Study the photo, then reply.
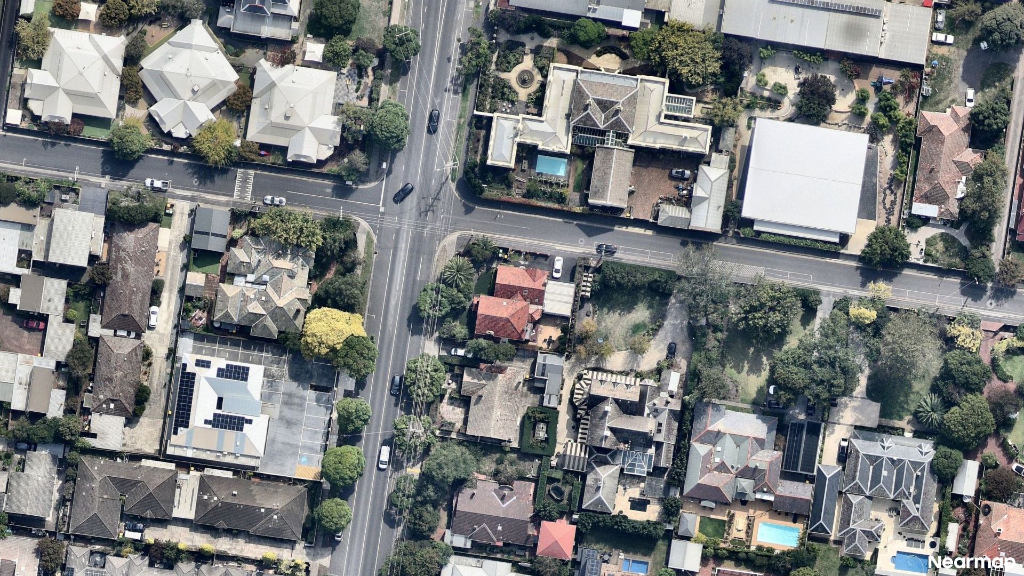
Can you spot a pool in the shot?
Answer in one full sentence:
Yes, you can see a pool in this photo.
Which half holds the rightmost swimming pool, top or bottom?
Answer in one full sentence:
You can find the rightmost swimming pool in the bottom half.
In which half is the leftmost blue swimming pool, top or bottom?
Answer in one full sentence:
It is in the top half that the leftmost blue swimming pool appears.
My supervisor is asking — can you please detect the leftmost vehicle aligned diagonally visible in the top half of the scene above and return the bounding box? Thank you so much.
[393,182,414,203]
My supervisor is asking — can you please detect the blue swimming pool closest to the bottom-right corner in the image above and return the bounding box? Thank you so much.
[890,550,931,575]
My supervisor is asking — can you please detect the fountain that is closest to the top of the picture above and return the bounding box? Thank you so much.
[516,69,535,88]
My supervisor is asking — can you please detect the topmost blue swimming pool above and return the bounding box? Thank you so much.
[533,154,569,177]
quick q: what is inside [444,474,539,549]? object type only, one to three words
house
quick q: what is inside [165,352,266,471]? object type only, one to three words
building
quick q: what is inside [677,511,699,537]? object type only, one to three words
gazebo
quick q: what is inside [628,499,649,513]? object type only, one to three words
swimming pool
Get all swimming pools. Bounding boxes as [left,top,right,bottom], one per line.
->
[621,558,651,576]
[533,154,569,177]
[890,550,931,575]
[628,499,649,513]
[755,522,802,548]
